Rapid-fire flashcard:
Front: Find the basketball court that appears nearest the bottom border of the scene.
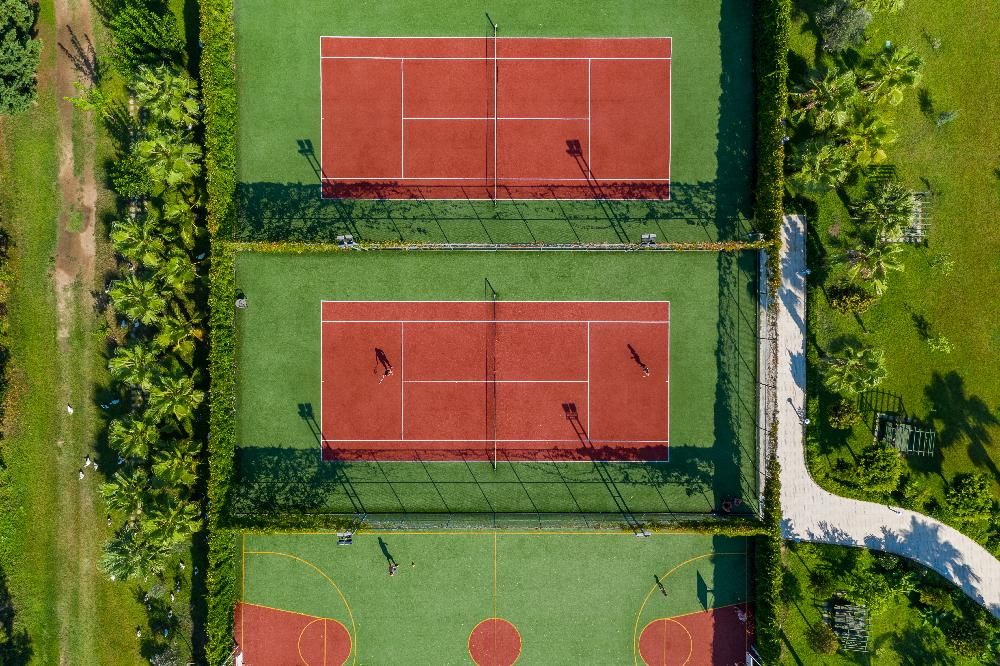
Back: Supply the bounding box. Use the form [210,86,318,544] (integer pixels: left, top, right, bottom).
[234,514,756,666]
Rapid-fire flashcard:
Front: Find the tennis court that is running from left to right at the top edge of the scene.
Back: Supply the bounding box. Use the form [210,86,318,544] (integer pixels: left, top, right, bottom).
[234,0,757,245]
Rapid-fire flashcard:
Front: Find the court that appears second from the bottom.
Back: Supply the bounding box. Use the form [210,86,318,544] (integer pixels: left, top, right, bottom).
[234,250,757,513]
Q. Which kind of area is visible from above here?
sports ground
